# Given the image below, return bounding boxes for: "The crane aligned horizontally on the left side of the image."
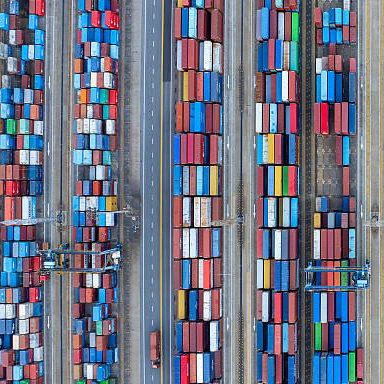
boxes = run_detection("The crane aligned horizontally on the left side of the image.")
[38,243,122,275]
